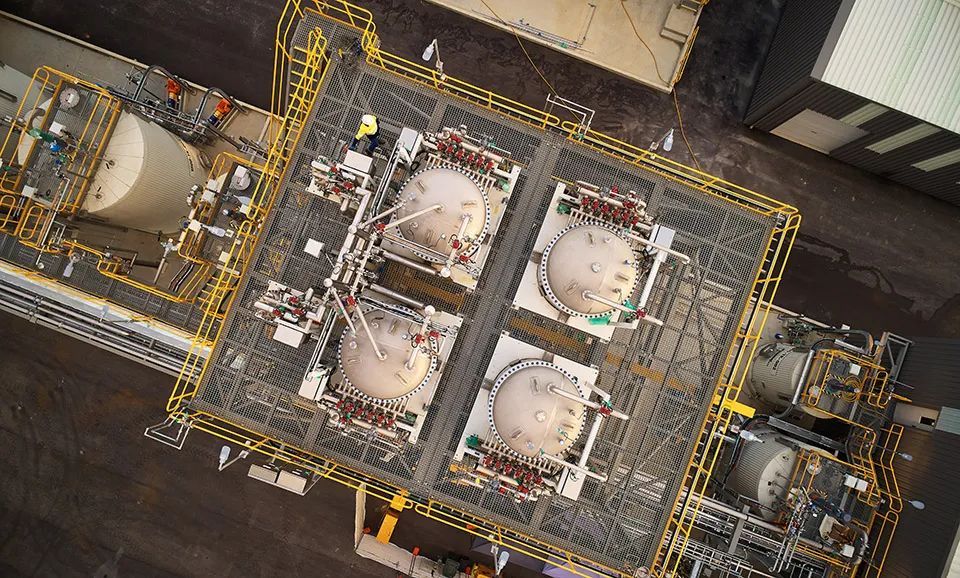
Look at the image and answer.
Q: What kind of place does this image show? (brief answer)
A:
industrial area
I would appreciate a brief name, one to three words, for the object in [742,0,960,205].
warehouse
